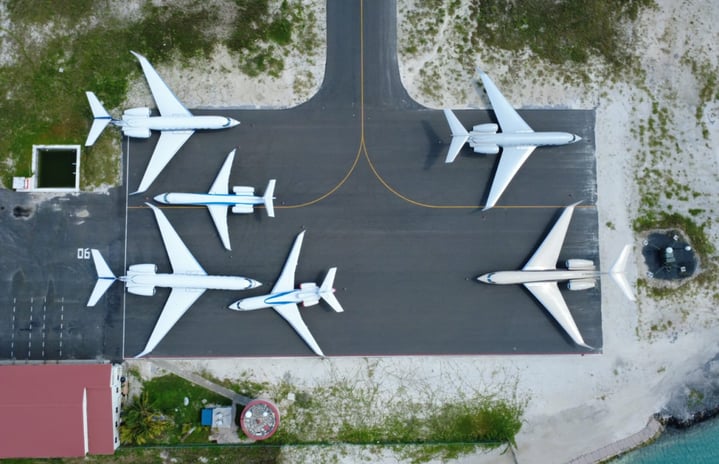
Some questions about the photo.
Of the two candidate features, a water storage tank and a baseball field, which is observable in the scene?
water storage tank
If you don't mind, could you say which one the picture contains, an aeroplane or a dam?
aeroplane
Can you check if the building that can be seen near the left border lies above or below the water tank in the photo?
below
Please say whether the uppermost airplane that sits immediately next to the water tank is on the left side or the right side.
left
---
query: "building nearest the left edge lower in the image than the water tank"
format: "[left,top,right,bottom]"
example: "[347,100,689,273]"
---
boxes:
[0,358,122,463]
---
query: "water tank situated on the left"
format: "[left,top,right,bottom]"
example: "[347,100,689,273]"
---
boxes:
[32,145,79,191]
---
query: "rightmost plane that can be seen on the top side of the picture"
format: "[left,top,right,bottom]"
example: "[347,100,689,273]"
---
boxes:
[445,64,583,210]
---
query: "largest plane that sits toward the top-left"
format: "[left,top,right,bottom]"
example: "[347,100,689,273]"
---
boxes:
[84,48,239,194]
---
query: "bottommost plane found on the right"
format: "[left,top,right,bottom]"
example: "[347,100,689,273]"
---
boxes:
[477,202,633,348]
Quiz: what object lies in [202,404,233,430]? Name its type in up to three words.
shed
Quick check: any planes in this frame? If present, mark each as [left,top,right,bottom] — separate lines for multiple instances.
[477,202,633,348]
[228,231,344,358]
[88,203,263,358]
[445,64,583,210]
[154,147,276,249]
[84,48,239,194]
